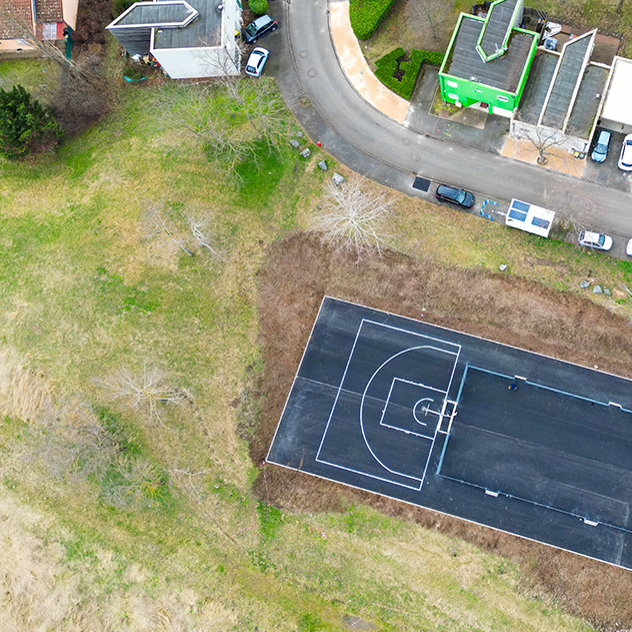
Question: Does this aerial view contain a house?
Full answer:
Yes, you can see a house in this photo.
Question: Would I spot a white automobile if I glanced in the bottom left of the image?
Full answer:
No, no white automobile appears in the bottom left of the image.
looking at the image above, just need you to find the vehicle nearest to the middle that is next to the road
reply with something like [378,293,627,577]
[435,185,475,209]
